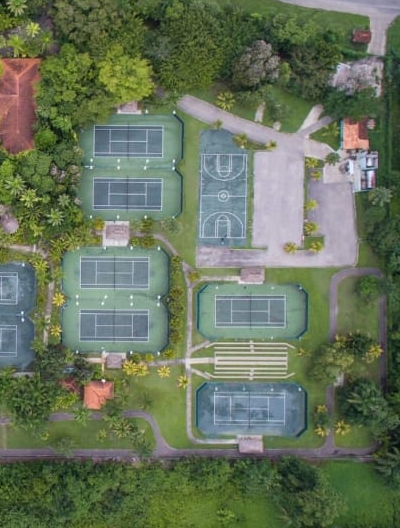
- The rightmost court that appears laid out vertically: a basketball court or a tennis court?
basketball court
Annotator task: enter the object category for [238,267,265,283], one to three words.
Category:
shed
